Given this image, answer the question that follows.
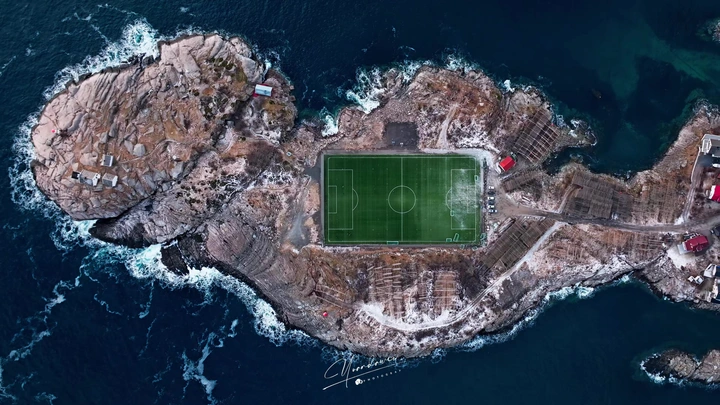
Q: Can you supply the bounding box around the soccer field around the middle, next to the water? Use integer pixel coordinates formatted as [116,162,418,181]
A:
[323,153,482,245]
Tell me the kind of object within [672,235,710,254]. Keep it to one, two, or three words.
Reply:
house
